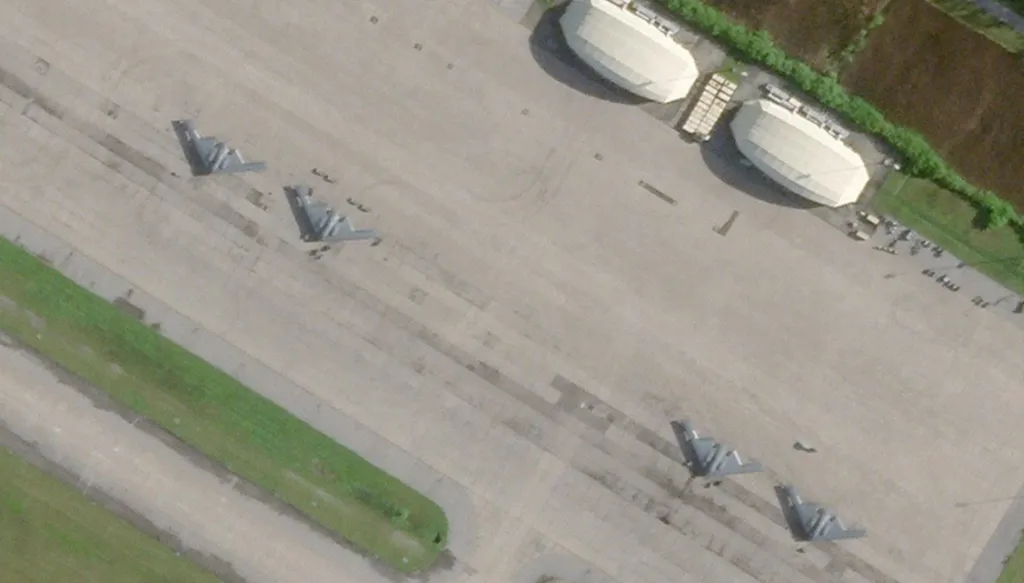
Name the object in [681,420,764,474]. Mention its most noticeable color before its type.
gray airplane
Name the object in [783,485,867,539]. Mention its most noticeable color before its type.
gray airplane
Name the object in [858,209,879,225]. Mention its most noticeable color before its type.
white vehicle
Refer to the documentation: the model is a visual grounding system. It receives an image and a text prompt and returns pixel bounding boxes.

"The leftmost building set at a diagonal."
[559,0,698,104]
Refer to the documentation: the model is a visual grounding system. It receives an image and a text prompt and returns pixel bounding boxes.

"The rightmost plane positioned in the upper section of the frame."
[293,185,377,239]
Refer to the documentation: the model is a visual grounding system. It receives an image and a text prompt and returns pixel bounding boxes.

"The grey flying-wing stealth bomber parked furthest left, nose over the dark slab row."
[180,119,267,173]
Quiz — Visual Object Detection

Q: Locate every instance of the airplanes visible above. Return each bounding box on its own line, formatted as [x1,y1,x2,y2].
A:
[293,185,377,239]
[783,485,867,539]
[681,420,764,474]
[180,119,267,173]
